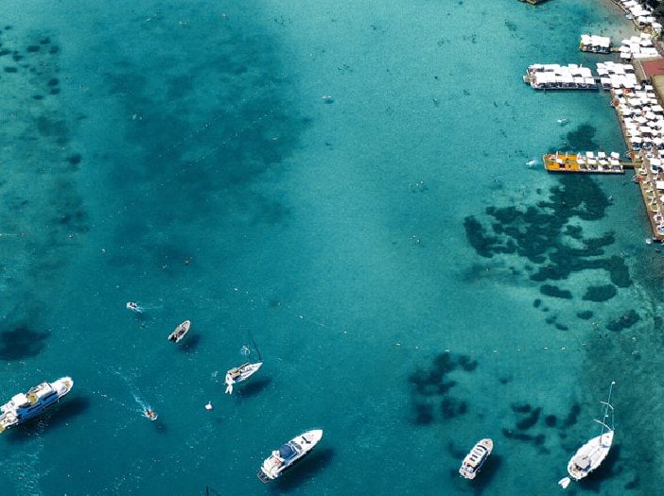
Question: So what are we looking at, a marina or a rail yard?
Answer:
marina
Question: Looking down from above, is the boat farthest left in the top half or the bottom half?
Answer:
bottom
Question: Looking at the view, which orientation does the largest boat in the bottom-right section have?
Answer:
on a diagonal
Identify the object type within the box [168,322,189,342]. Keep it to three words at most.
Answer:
boat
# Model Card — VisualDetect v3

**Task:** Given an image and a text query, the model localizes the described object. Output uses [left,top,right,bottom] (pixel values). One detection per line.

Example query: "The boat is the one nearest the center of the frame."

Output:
[223,334,262,387]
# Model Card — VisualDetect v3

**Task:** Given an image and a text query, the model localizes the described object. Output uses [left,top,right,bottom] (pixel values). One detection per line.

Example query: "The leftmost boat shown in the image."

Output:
[0,373,67,437]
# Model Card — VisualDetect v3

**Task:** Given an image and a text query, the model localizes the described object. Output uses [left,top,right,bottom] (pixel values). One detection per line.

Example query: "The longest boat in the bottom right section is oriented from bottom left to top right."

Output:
[562,396,614,485]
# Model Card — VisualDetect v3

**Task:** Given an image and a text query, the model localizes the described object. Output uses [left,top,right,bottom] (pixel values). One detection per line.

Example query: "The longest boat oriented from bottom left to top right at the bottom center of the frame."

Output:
[253,425,328,487]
